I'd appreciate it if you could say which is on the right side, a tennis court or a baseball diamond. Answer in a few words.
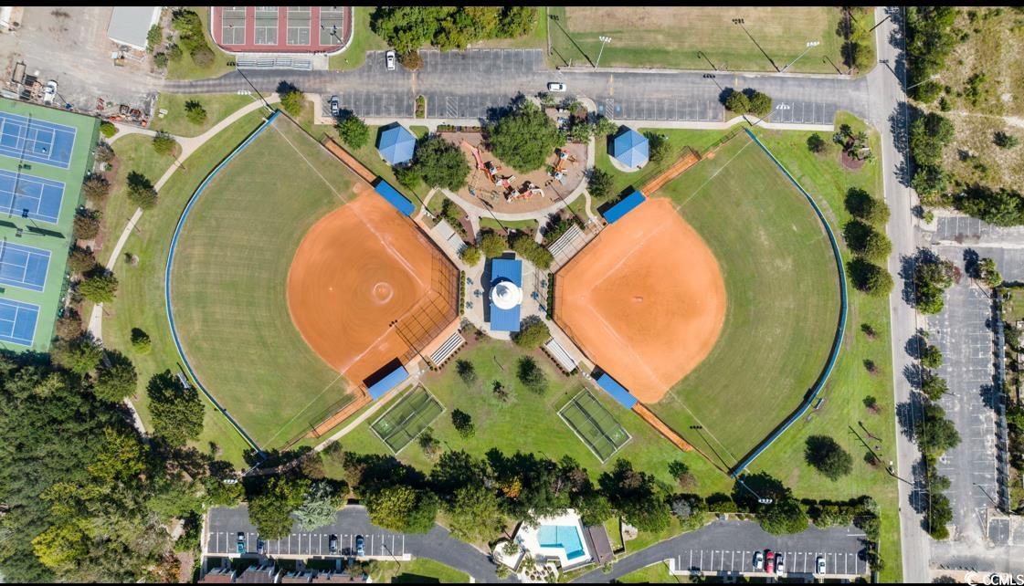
baseball diamond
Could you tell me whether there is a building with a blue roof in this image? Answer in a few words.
Yes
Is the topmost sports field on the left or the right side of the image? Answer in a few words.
right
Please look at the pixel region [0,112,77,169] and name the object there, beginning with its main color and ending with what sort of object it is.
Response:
blue tennis court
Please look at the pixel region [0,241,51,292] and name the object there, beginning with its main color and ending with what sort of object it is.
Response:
blue tennis court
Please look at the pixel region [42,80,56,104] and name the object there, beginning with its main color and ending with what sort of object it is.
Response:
white vehicle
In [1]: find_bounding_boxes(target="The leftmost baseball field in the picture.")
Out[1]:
[167,111,458,456]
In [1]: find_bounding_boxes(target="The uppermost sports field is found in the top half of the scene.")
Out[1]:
[550,0,848,74]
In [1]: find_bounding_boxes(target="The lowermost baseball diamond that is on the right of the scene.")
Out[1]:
[555,129,844,476]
